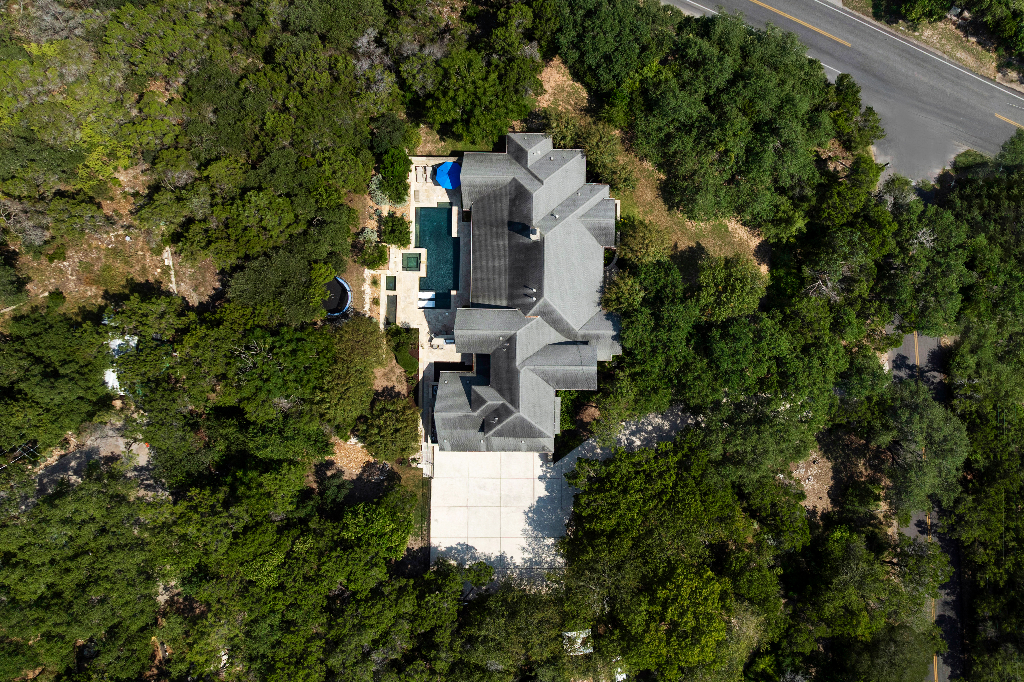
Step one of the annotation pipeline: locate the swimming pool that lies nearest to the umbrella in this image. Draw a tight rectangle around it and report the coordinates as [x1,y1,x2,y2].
[415,202,460,309]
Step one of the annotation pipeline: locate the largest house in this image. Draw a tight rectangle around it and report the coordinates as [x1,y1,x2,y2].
[434,132,623,453]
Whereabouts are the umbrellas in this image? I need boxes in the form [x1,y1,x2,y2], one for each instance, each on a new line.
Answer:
[428,160,461,189]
